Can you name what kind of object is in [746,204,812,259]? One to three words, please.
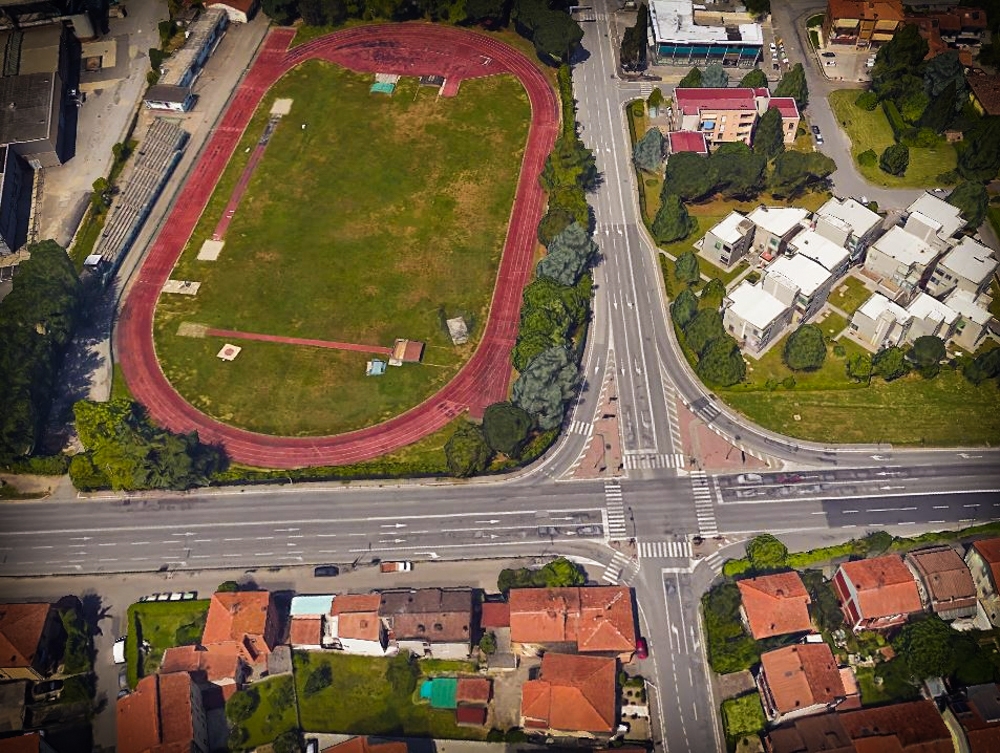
house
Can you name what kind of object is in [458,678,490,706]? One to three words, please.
building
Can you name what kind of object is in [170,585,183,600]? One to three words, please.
vehicle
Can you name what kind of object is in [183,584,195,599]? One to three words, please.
vehicle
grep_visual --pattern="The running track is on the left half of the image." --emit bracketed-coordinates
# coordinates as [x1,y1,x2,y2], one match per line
[116,23,561,469]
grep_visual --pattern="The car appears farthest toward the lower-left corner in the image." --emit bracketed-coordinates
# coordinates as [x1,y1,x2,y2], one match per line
[34,683,62,695]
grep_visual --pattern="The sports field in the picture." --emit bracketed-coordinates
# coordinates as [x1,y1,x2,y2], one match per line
[153,59,530,437]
